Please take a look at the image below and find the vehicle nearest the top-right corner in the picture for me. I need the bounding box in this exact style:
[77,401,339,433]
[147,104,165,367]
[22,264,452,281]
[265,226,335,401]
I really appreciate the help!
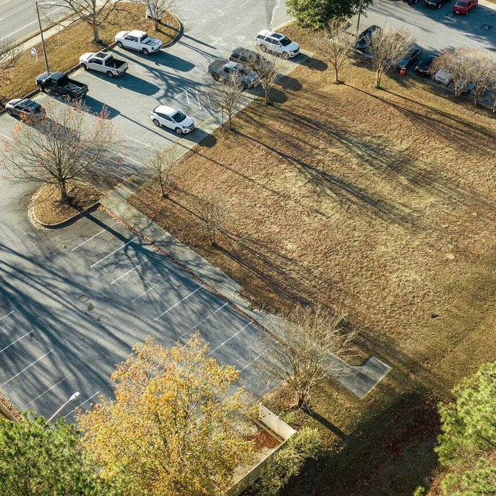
[449,0,480,17]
